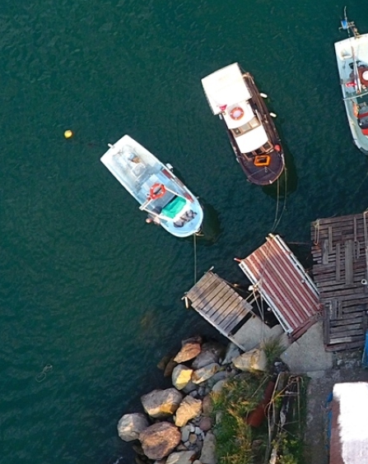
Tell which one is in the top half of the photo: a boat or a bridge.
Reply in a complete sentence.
Visible in the top half of the photo is a boat.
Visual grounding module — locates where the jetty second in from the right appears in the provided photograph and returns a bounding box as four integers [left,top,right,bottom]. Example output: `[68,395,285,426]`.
[234,233,327,343]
